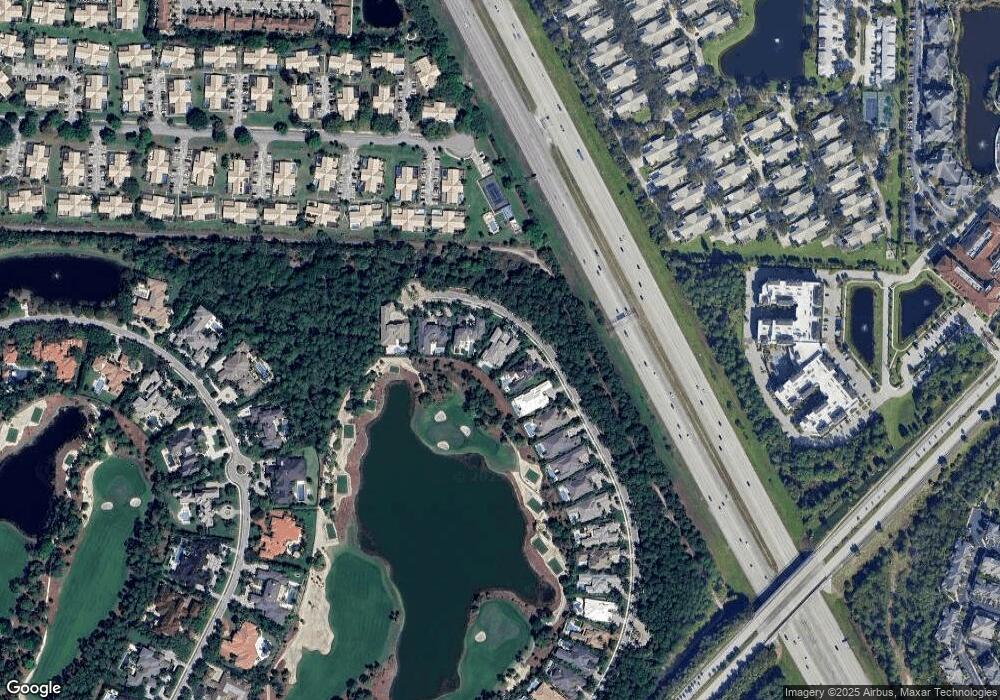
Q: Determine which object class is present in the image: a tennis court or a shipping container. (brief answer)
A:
tennis court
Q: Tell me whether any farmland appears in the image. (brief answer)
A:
No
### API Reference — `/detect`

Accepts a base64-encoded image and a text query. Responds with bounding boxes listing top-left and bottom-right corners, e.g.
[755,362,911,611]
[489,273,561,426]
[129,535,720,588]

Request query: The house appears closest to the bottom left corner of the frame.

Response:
[125,643,167,691]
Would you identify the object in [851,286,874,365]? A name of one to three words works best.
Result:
pond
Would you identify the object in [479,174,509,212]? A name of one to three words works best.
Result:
tennis court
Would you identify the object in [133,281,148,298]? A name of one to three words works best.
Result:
swimming pool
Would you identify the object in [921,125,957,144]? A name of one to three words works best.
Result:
building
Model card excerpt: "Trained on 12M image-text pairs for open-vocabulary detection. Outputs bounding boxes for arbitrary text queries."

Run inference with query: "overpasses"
[747,550,841,644]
